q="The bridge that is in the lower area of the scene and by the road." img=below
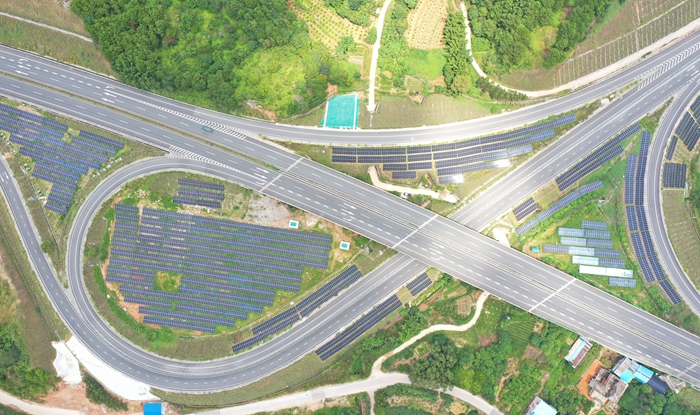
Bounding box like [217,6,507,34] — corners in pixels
[262,149,700,396]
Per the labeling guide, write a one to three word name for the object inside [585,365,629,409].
house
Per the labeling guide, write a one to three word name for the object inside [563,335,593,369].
shed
